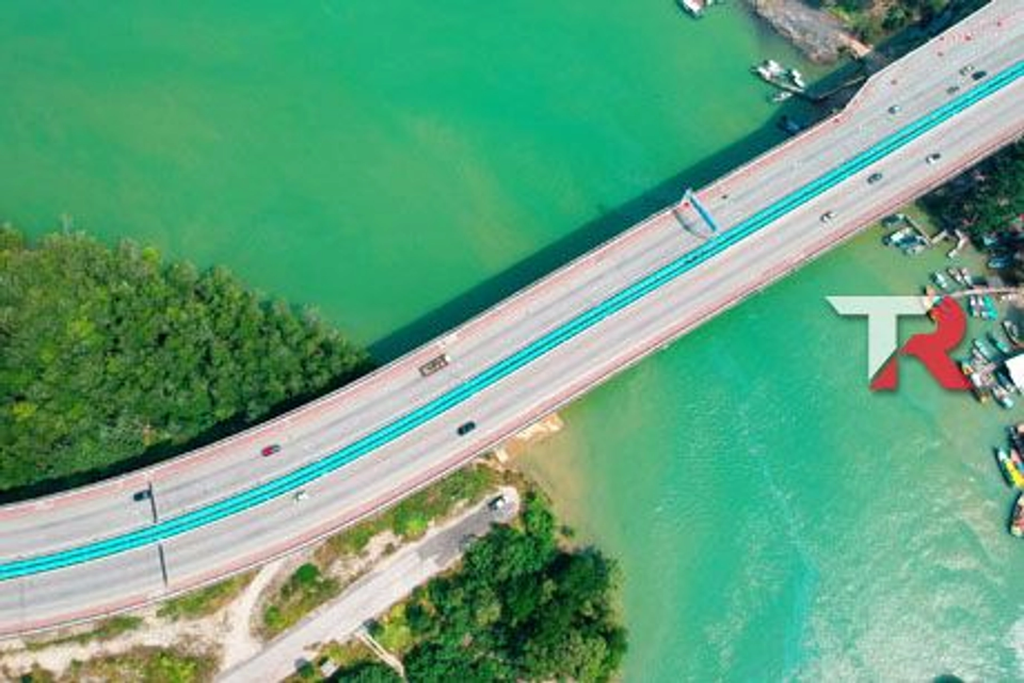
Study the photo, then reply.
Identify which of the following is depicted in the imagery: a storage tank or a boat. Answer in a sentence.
It is a boat that can be seen here.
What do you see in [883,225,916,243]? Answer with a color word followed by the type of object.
white boat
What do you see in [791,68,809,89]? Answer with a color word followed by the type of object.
white boat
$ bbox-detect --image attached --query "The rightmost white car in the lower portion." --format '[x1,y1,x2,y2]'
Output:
[490,495,508,509]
